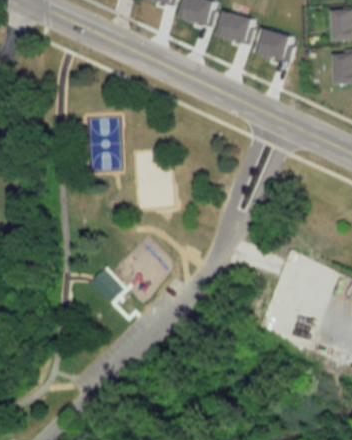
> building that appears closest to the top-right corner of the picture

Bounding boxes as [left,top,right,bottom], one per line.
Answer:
[331,8,352,40]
